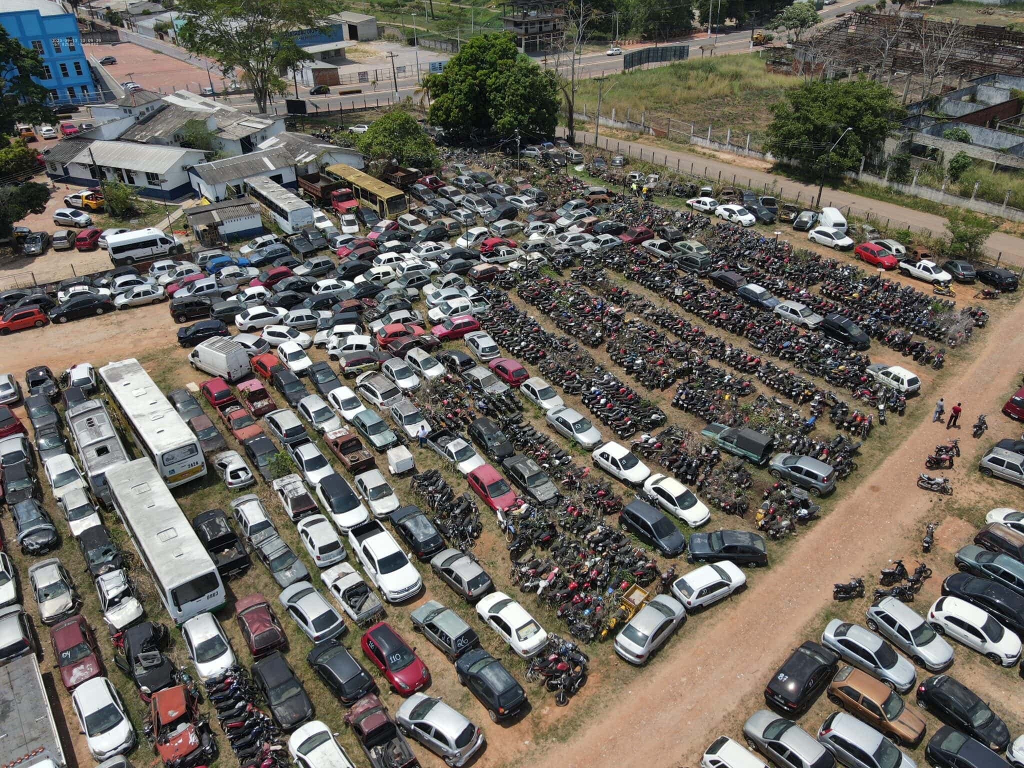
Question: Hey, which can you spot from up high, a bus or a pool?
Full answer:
There is a bus in the scene.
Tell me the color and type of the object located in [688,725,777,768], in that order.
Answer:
white car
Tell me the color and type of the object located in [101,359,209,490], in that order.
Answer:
white bus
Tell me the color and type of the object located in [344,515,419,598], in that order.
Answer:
white truck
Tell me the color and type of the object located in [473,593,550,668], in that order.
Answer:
white car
